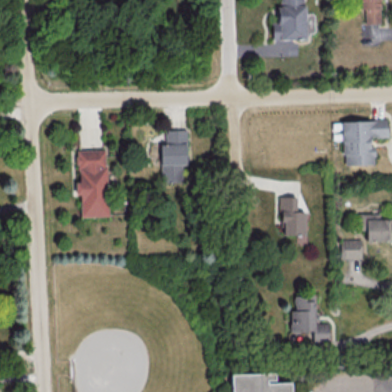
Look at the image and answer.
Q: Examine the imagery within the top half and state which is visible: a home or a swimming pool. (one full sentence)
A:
Looking within the top half, you will find a home.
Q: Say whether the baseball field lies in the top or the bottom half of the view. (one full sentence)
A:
It is in the bottom half that the baseball field appears.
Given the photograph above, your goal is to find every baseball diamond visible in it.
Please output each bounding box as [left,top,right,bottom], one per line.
[55,262,206,392]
